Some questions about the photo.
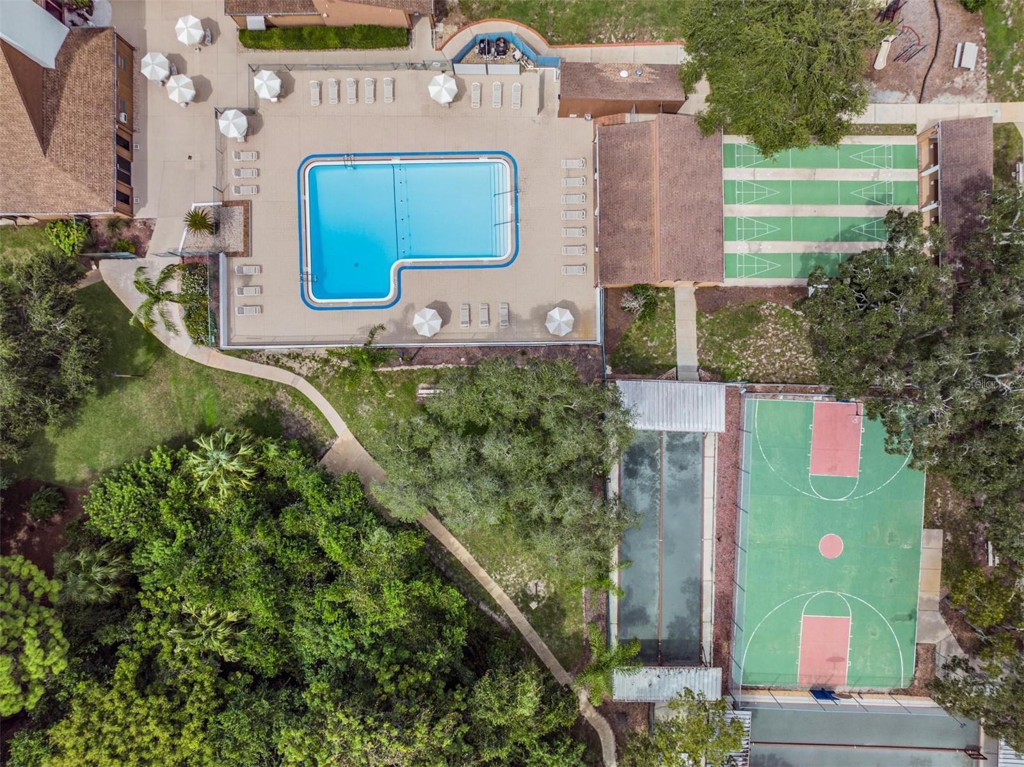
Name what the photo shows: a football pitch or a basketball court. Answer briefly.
basketball court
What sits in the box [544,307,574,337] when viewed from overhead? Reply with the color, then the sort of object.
white umbrella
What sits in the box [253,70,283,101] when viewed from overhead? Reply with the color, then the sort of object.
white umbrella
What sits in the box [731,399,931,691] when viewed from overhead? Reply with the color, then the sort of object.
green basketball court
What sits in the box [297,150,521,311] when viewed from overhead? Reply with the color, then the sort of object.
blue swimming pool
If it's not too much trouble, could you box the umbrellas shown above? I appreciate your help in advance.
[253,70,283,101]
[413,307,443,337]
[142,53,173,84]
[428,75,458,105]
[219,110,249,140]
[544,307,574,337]
[176,16,207,47]
[167,75,198,105]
